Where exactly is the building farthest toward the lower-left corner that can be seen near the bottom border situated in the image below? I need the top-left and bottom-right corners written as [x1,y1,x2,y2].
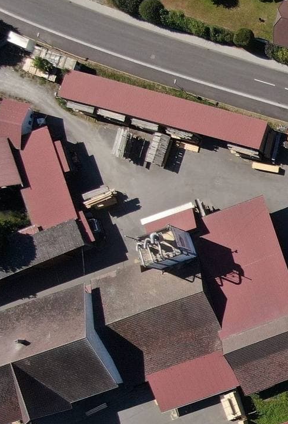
[0,283,131,424]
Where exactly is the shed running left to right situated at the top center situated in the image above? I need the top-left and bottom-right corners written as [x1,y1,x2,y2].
[58,70,273,155]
